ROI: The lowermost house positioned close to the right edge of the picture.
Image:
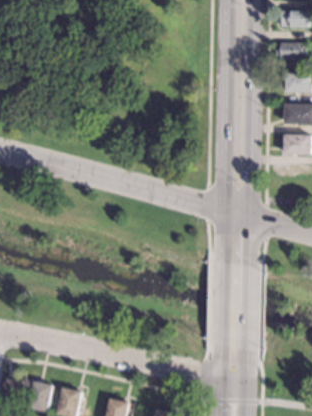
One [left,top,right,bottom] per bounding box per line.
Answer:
[284,134,312,154]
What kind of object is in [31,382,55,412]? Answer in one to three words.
house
